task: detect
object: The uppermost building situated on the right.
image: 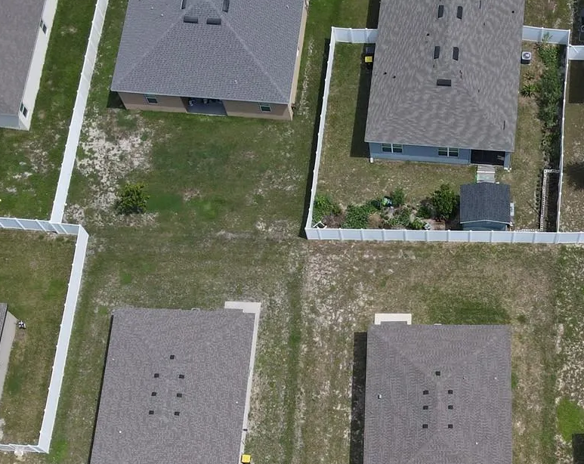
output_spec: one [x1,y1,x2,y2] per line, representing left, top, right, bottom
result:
[365,0,523,165]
